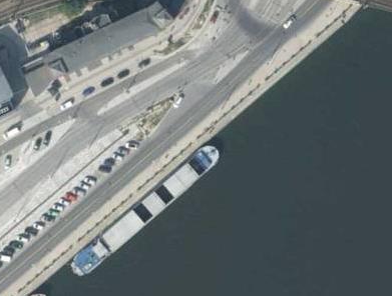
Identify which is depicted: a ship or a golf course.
ship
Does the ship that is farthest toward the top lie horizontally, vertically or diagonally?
diagonally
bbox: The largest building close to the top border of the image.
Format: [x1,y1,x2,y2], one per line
[45,3,173,82]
